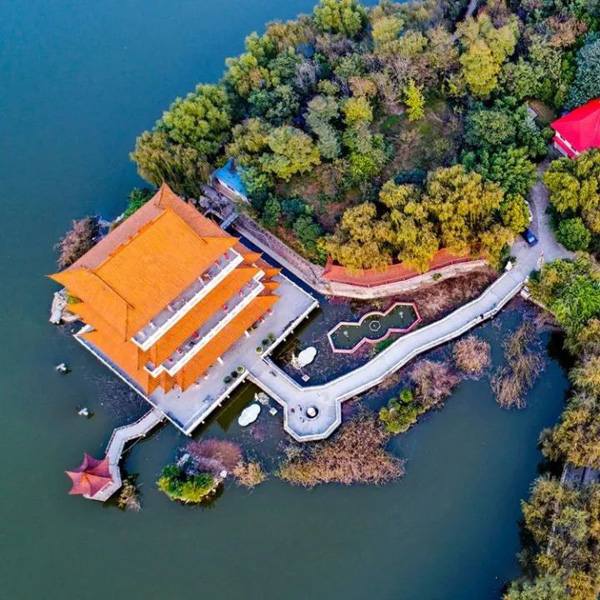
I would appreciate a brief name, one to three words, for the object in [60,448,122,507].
building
